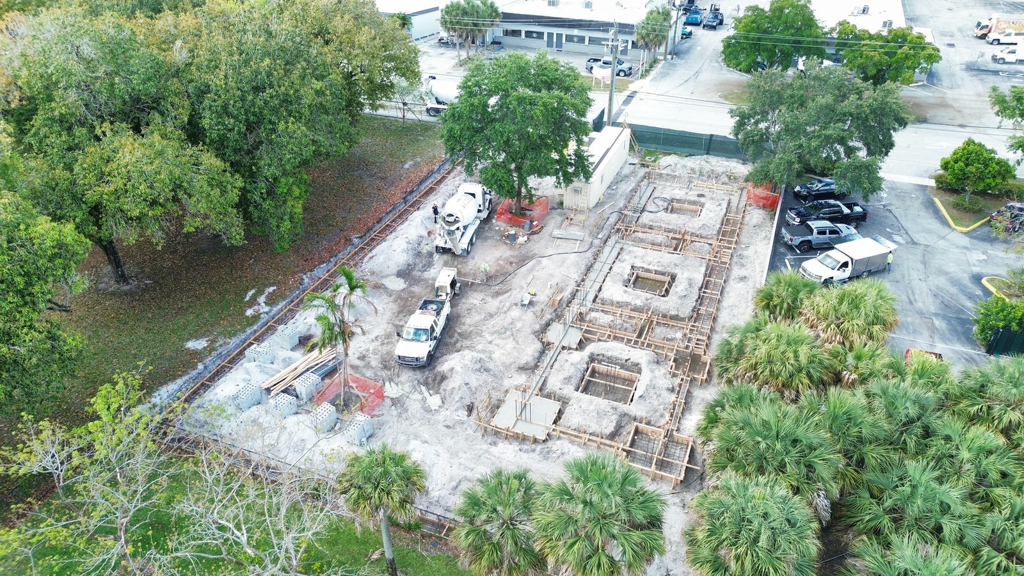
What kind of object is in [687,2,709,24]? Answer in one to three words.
truck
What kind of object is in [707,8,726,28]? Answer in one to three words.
vehicle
